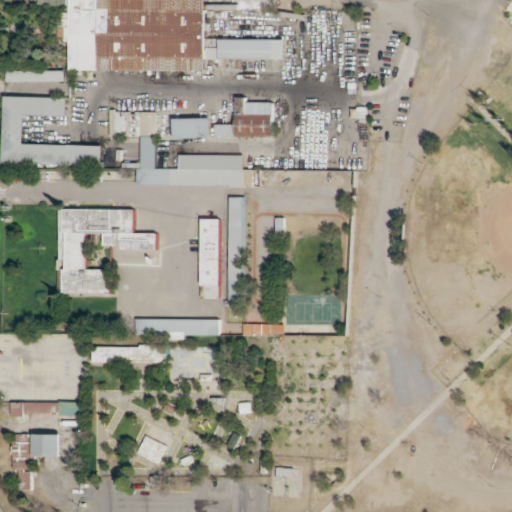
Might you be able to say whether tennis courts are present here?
Yes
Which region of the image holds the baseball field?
right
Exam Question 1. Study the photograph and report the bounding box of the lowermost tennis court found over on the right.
[286,295,341,324]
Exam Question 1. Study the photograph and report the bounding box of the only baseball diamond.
[470,169,512,292]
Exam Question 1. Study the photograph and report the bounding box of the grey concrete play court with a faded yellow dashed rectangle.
[172,348,216,380]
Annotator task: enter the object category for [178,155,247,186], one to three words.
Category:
shed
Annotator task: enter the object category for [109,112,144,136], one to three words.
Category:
building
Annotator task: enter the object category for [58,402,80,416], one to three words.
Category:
house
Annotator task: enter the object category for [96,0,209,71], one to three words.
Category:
building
